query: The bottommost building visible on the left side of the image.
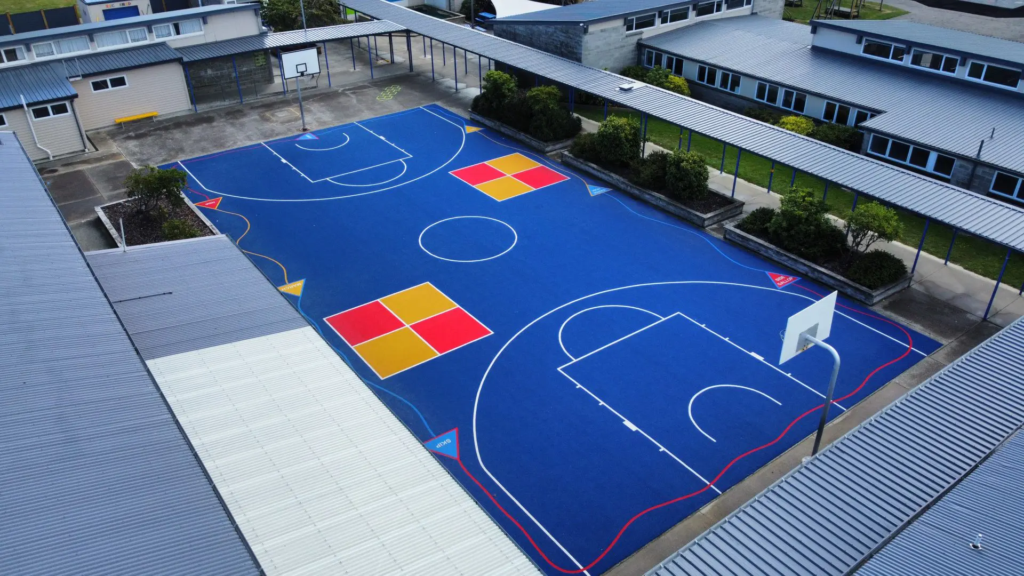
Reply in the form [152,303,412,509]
[0,130,266,576]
